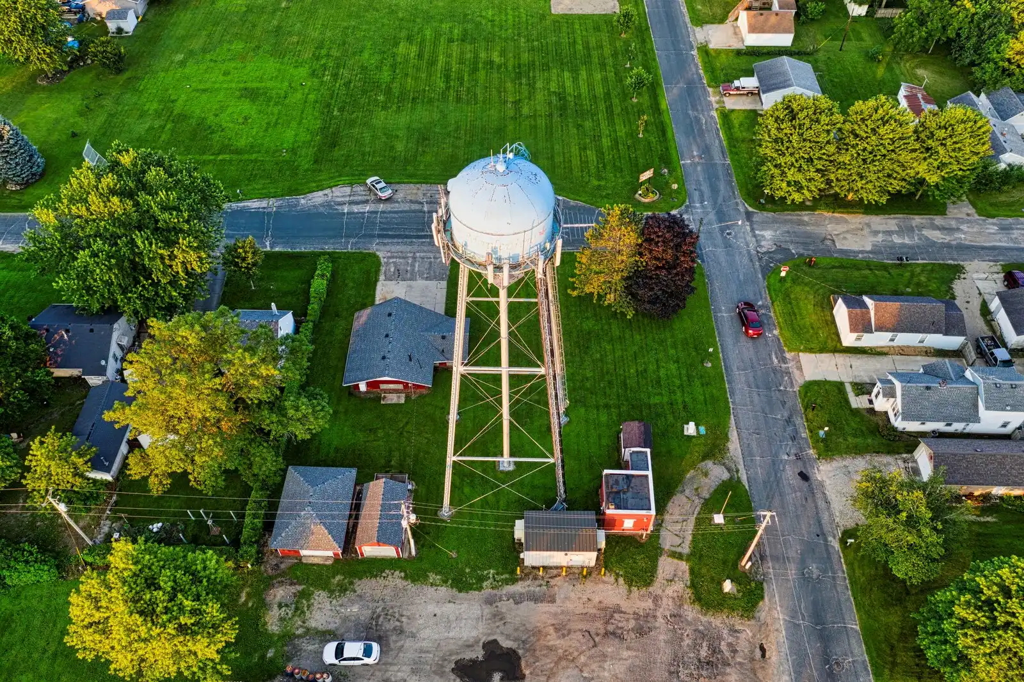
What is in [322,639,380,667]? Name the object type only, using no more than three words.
car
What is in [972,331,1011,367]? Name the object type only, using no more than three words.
truck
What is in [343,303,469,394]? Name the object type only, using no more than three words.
house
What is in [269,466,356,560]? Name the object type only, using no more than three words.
building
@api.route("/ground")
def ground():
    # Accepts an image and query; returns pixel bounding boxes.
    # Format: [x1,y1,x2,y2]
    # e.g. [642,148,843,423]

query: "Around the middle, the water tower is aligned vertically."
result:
[430,134,570,523]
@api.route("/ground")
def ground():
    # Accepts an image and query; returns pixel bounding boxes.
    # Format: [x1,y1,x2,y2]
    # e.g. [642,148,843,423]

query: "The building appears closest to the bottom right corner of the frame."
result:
[918,438,1024,500]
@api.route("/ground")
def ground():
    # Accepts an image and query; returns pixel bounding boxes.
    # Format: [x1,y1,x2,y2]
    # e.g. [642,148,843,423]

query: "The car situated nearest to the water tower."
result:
[366,177,394,201]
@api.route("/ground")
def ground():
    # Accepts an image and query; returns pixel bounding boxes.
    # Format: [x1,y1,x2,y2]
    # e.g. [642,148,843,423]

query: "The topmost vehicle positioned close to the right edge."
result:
[996,270,1024,290]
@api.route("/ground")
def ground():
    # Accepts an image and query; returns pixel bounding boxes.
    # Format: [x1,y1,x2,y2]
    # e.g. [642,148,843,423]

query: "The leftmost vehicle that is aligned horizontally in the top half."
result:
[719,79,759,99]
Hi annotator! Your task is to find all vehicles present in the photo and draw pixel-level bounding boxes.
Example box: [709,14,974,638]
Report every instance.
[996,270,1024,290]
[972,331,1011,367]
[735,303,763,336]
[366,177,394,201]
[322,639,380,667]
[719,79,759,99]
